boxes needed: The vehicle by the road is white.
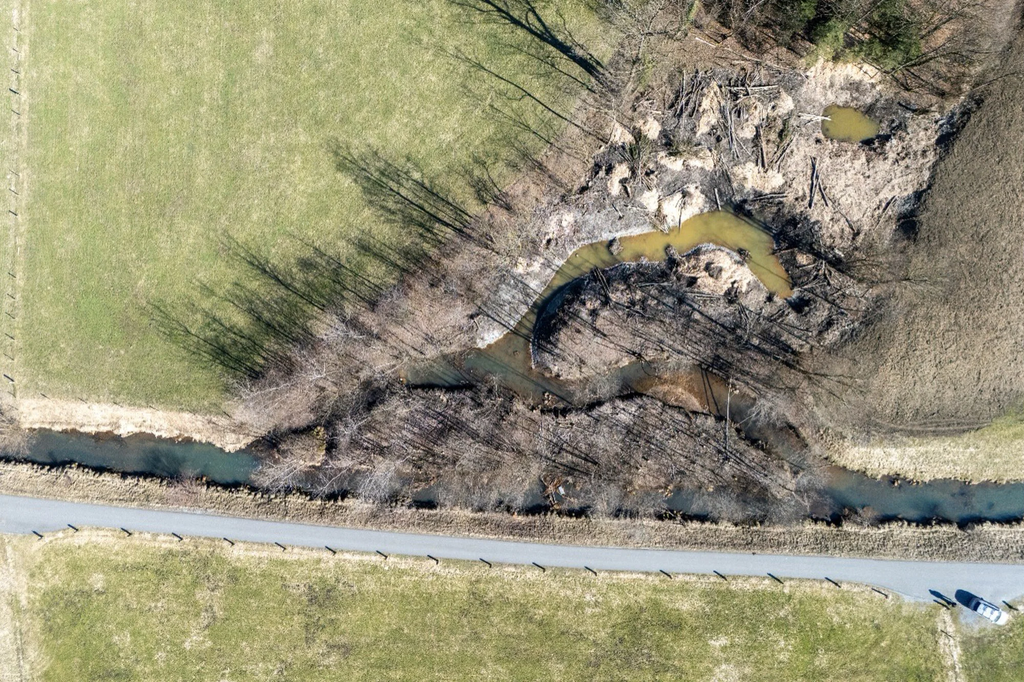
[966,595,1012,626]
